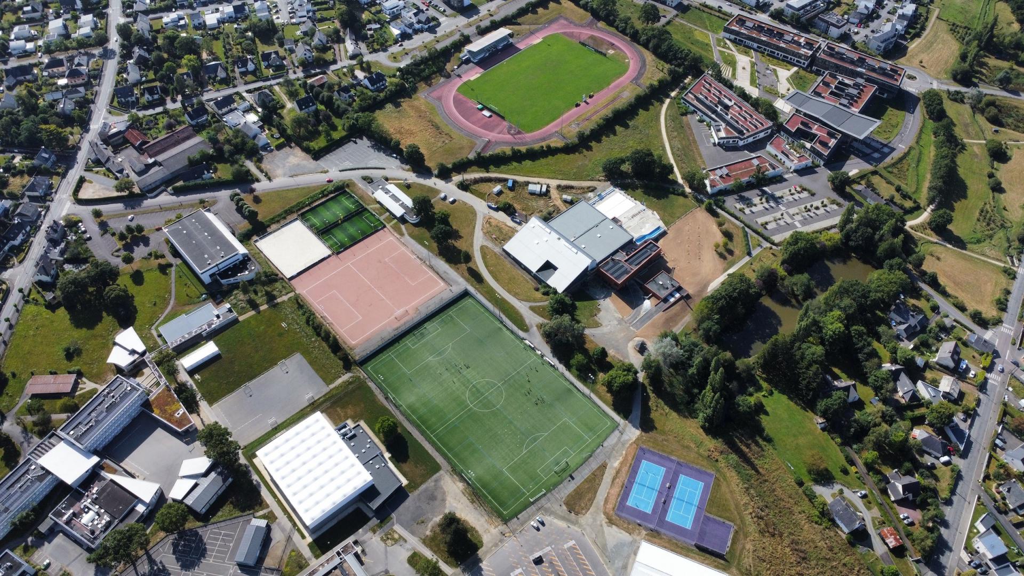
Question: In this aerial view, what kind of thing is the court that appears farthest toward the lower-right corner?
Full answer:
It looks like the court that appears farthest toward the lower-right corner is a tennis court.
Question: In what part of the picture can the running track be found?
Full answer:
The running track is located in the top region of the scene.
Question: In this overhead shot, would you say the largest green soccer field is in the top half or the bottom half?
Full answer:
It is in the bottom half that the largest green soccer field appears.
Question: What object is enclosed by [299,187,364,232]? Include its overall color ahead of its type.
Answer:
green sports field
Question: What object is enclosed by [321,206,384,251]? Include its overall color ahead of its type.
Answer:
green sports field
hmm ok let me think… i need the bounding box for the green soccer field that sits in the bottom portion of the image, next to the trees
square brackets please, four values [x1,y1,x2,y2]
[361,296,617,520]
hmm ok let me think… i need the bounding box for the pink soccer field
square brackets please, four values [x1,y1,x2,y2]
[288,227,466,360]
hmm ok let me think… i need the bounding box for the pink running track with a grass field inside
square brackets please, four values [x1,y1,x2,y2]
[419,15,647,153]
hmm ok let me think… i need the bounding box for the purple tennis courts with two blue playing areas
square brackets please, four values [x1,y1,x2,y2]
[615,446,733,551]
